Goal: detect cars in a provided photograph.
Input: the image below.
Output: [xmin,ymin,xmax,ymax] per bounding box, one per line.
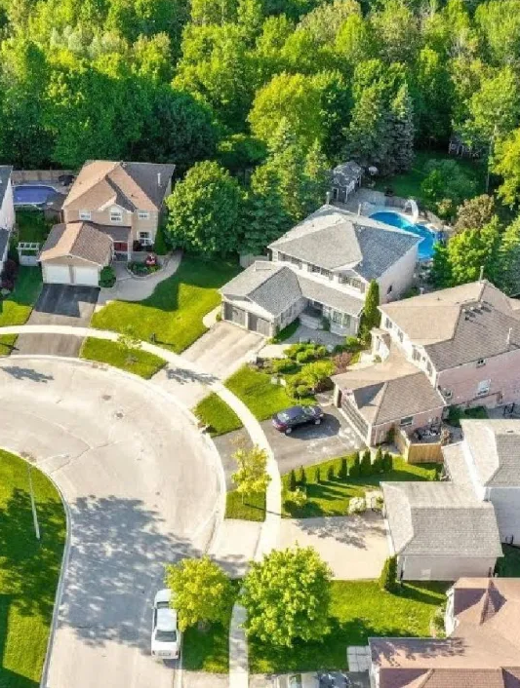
[150,591,181,655]
[273,398,330,430]
[279,672,357,688]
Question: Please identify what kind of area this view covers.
residential area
